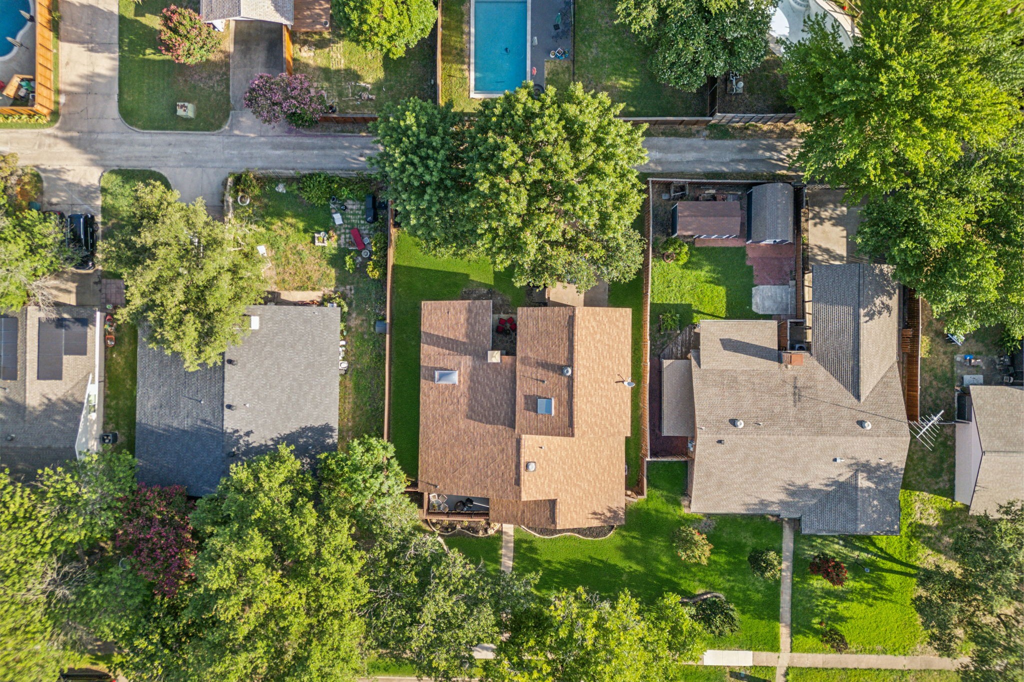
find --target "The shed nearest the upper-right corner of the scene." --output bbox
[745,184,800,246]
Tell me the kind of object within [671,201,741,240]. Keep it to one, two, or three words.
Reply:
shed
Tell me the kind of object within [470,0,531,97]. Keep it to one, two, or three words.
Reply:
swimming pool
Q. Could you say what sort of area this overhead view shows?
residential area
